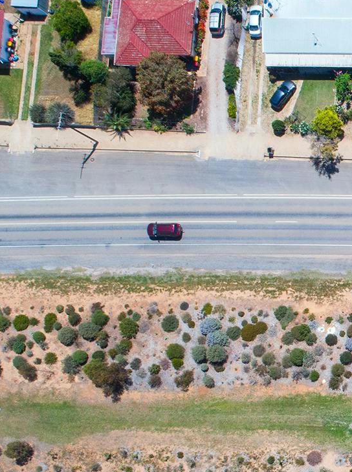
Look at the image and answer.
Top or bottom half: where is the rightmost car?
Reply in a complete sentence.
Seen from above, the rightmost car lies in the top half of the view.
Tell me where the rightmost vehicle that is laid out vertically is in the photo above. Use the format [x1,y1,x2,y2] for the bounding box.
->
[247,6,263,41]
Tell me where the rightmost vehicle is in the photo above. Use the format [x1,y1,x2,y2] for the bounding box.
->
[272,82,299,113]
